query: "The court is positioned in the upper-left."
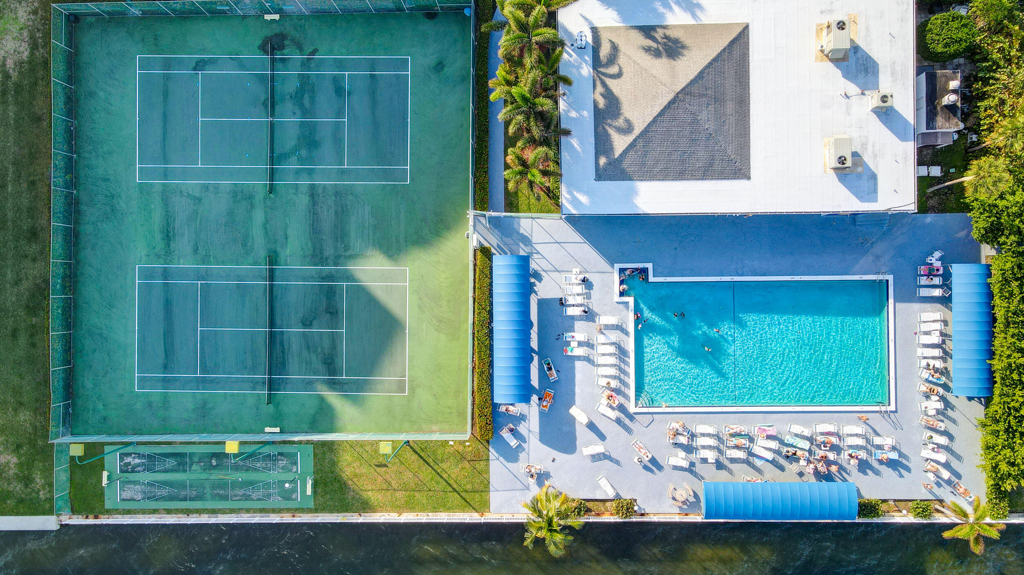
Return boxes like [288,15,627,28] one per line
[73,12,473,226]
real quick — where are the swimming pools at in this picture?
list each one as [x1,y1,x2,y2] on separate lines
[614,263,896,414]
